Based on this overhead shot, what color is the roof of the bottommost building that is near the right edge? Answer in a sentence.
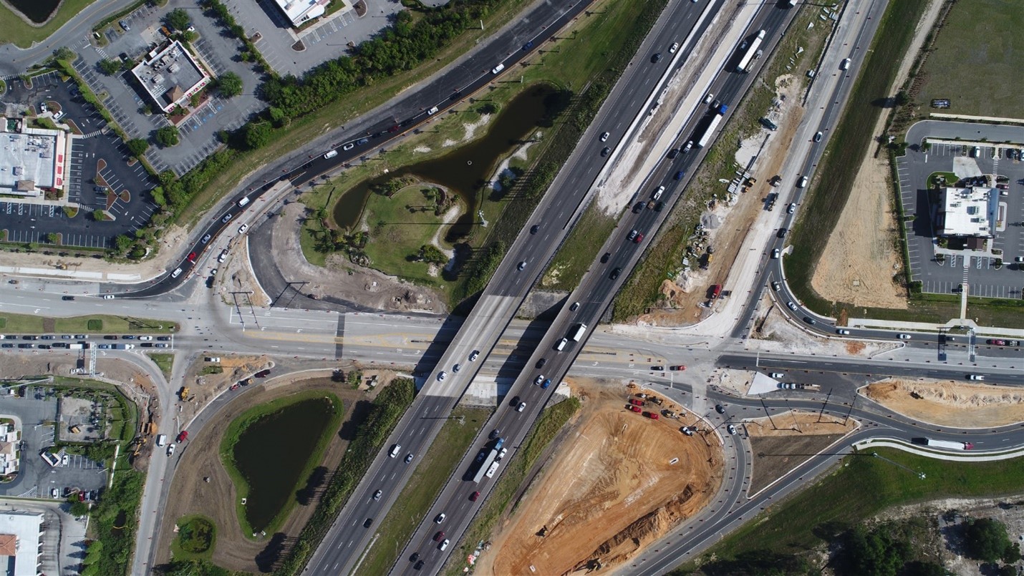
The color of the roof on the bottommost building that is near the right edge is white.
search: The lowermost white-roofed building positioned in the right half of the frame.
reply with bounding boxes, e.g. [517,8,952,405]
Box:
[934,174,999,249]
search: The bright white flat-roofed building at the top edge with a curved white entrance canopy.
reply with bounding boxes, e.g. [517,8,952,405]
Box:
[276,0,335,29]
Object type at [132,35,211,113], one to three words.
building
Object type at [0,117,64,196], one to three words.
building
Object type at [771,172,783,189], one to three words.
vehicle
